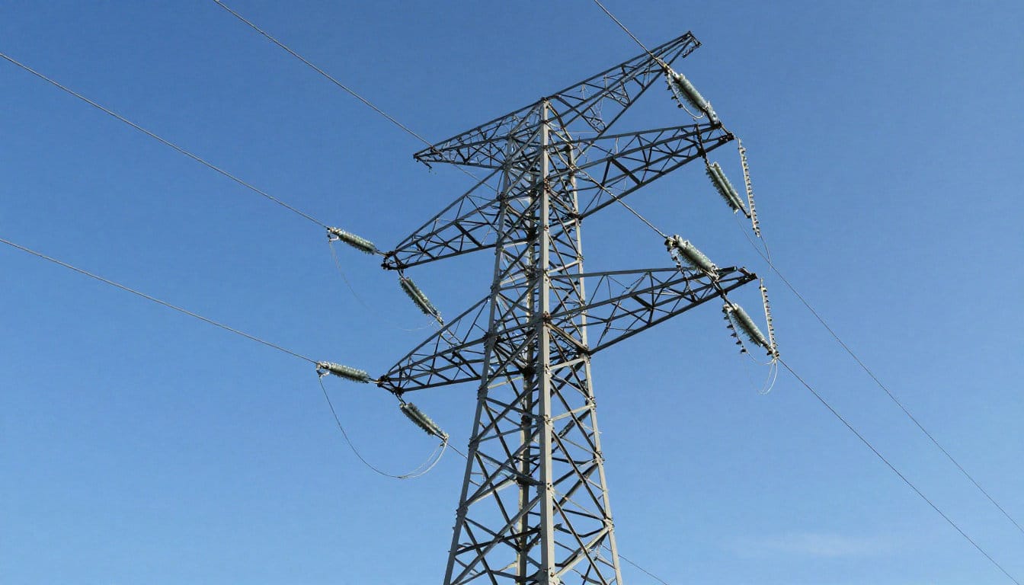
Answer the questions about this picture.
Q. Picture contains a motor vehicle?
No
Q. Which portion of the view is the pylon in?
center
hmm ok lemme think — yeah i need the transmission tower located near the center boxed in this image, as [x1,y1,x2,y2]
[380,30,758,585]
